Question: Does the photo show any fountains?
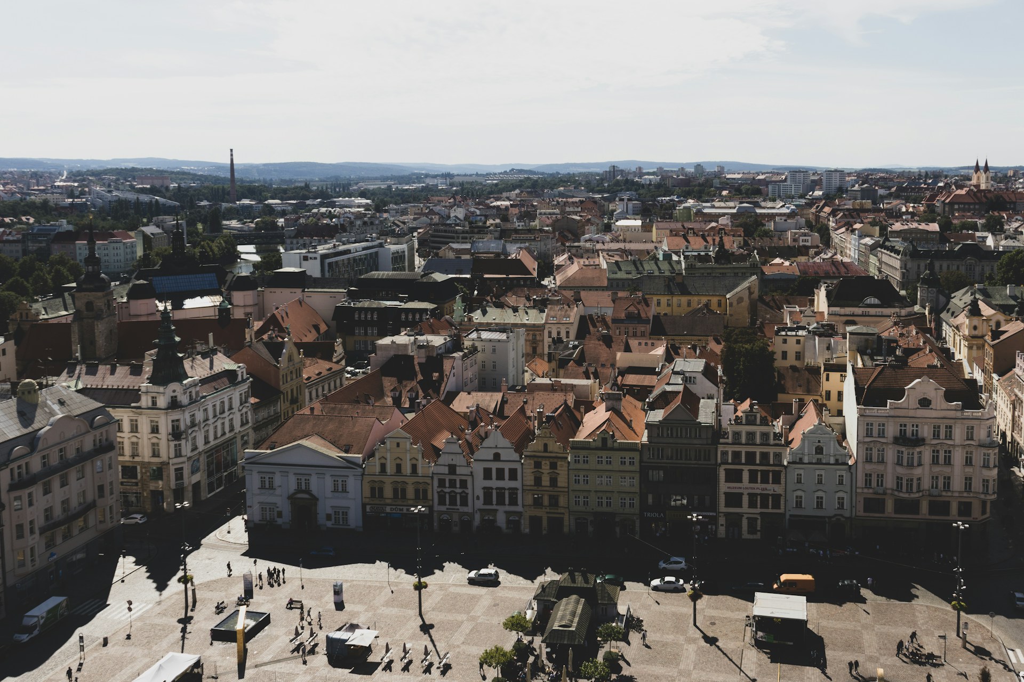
Yes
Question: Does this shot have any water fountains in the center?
No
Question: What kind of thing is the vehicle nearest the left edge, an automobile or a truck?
truck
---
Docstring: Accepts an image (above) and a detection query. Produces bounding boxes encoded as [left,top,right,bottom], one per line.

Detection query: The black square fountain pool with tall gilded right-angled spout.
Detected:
[211,608,275,665]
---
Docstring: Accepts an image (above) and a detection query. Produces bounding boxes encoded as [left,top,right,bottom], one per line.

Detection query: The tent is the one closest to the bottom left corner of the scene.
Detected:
[129,649,202,682]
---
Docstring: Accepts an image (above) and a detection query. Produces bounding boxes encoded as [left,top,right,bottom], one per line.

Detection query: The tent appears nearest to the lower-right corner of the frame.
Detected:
[741,593,810,648]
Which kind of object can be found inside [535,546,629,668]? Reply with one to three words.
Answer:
building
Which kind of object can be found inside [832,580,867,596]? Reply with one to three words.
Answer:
car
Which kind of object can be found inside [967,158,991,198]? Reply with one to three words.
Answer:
building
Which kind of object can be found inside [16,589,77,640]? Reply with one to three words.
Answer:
truck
